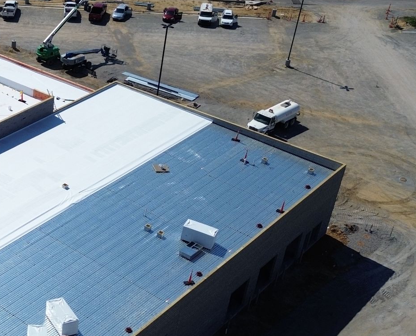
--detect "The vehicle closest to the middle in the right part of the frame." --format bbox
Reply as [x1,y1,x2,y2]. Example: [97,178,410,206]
[244,96,306,137]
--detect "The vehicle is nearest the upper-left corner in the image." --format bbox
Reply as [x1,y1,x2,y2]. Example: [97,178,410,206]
[2,0,19,18]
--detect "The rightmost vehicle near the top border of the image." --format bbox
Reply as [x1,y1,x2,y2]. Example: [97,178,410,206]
[212,9,234,28]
